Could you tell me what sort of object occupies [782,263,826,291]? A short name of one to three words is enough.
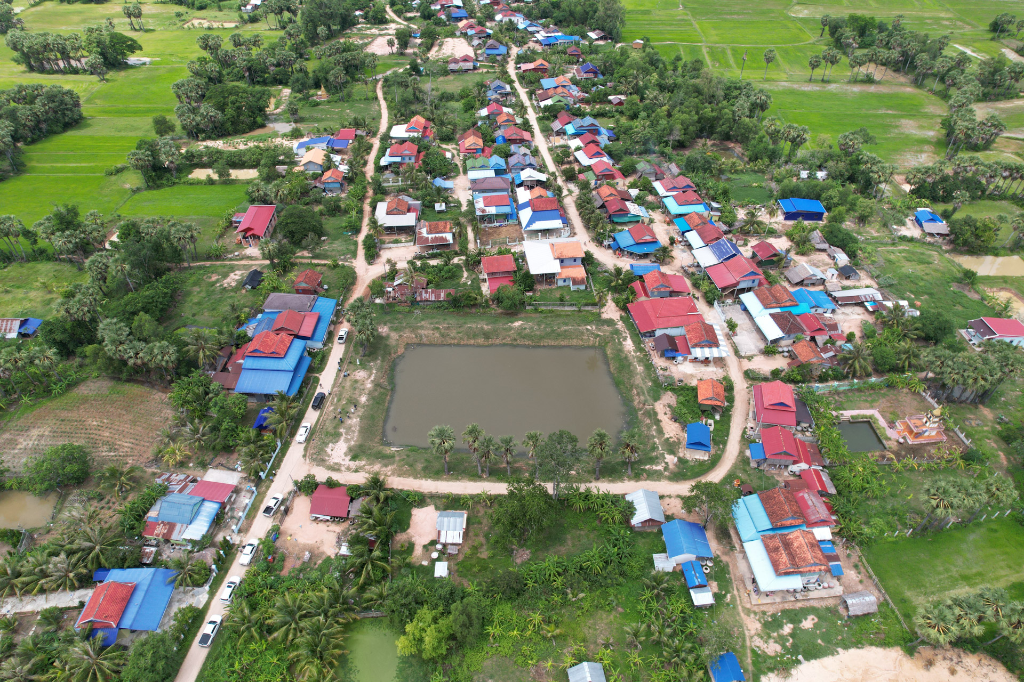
barn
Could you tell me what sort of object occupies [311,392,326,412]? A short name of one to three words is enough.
car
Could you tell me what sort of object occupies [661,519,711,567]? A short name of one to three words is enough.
house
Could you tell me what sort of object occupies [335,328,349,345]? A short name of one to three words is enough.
vehicle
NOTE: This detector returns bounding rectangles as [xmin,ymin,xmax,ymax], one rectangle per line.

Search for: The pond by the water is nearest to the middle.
[382,344,625,450]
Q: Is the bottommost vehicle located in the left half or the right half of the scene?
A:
left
